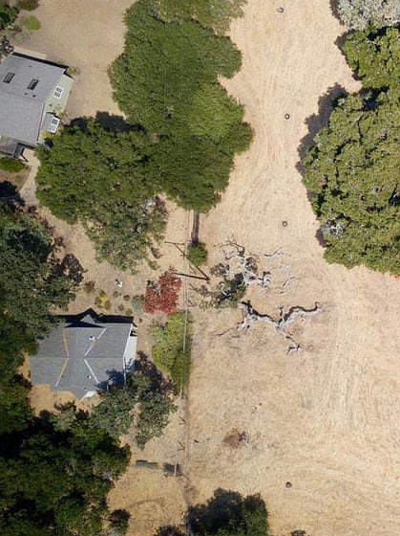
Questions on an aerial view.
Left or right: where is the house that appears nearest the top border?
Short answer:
left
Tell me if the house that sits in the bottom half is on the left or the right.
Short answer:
left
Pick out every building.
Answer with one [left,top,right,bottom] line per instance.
[31,317,143,402]
[0,49,81,159]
